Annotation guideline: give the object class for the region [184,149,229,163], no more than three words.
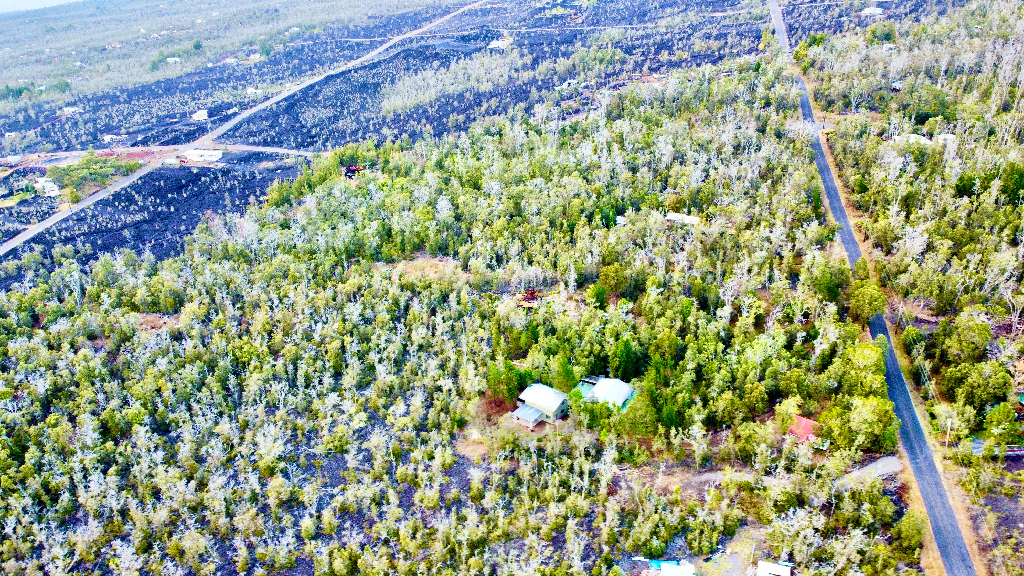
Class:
house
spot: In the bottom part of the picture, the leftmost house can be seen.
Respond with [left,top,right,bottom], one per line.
[506,380,575,429]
